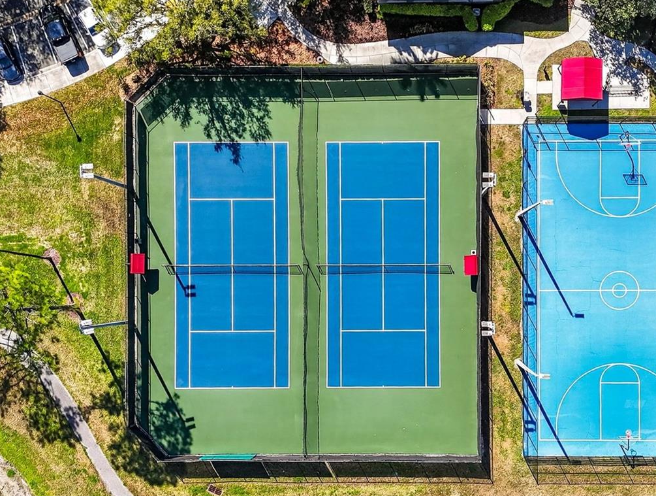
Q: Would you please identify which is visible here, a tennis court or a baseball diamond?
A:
tennis court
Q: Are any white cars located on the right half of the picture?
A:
No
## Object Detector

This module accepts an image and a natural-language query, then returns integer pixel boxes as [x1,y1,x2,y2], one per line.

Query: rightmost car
[74,4,117,58]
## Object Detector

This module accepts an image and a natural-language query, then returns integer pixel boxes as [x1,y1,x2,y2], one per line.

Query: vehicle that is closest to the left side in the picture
[0,35,23,85]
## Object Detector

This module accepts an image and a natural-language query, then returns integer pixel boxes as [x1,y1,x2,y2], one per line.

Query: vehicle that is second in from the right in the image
[41,4,86,67]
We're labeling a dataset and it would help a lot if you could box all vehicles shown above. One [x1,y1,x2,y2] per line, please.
[74,4,117,58]
[0,35,23,85]
[41,4,86,67]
